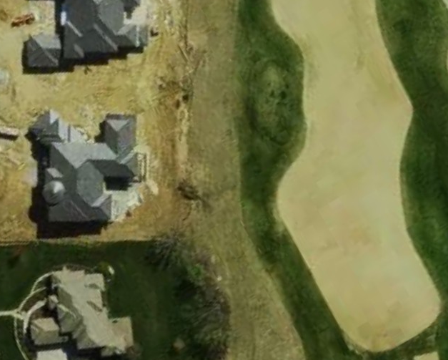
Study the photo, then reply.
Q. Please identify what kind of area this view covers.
golf course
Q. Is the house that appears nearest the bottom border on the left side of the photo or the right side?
left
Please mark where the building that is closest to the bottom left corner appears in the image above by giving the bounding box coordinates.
[28,271,134,357]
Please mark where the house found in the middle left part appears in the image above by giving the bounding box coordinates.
[27,108,137,224]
